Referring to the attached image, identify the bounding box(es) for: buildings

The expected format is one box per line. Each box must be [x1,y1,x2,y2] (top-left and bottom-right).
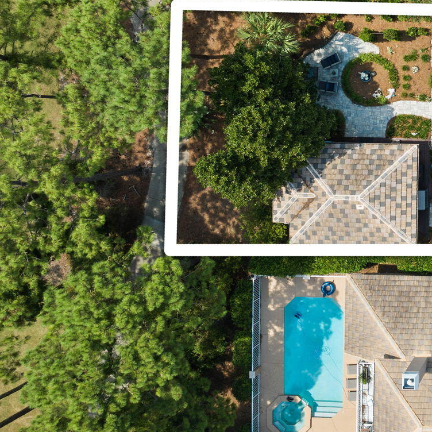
[341,271,432,432]
[272,142,421,250]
